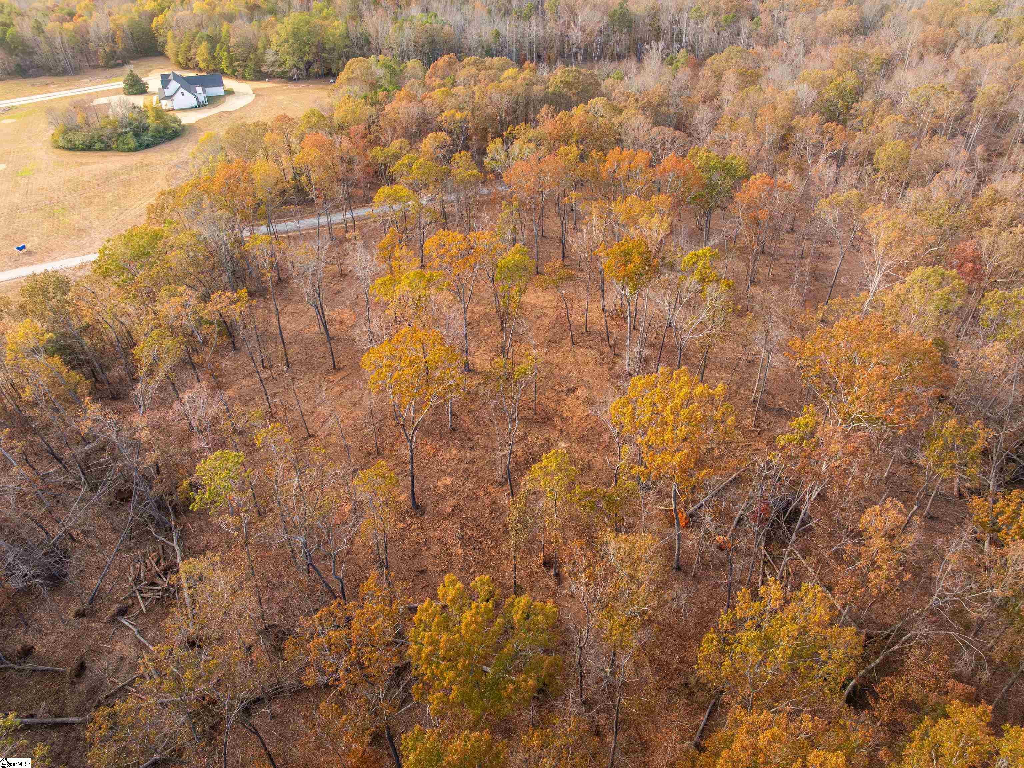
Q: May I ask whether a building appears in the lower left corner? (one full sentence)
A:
No, no building can be made out in the lower left corner.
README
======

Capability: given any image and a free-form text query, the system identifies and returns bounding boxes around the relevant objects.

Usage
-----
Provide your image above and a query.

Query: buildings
[148,71,224,110]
